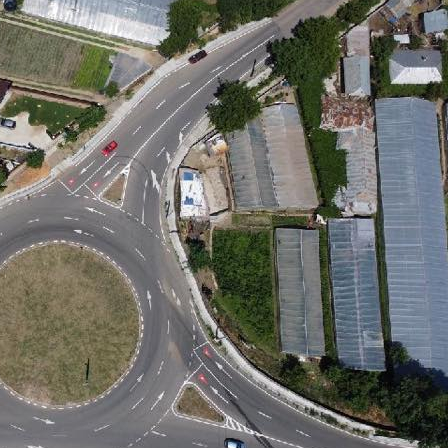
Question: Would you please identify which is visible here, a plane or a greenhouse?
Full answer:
Looking from above, you can make out a greenhouse.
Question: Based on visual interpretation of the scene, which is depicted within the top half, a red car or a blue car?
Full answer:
What appears within the top half is a red car.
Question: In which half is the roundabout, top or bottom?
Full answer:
You can find the roundabout in the bottom half.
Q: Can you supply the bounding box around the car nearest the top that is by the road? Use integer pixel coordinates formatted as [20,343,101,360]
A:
[187,48,208,65]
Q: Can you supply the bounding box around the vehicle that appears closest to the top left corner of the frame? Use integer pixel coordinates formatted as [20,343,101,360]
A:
[0,117,18,129]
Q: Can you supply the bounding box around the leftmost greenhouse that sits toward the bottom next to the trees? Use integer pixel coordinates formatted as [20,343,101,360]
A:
[273,228,325,357]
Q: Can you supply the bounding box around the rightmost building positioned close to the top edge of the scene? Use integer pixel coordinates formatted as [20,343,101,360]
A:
[417,7,448,35]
